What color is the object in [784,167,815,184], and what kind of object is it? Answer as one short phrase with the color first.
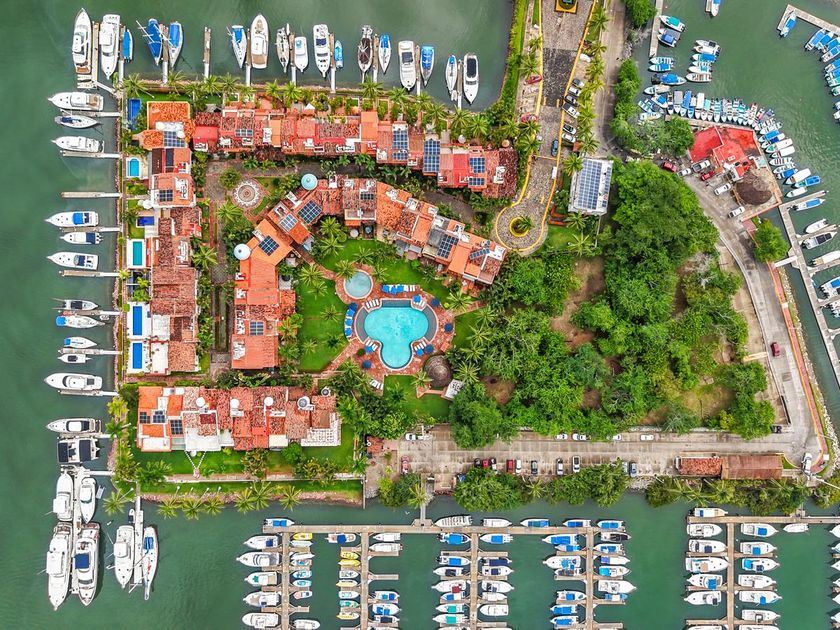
white boat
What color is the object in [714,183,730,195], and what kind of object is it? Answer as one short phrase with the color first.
white vehicle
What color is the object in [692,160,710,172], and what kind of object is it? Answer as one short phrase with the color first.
white vehicle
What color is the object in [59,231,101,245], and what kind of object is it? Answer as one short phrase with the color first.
white boat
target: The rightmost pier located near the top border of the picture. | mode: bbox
[776,4,840,37]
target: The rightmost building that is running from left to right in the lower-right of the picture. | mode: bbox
[715,452,783,478]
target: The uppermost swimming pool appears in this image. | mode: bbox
[127,98,141,130]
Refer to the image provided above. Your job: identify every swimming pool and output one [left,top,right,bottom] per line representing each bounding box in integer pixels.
[127,98,141,130]
[344,270,373,299]
[137,216,154,227]
[132,343,142,368]
[354,299,439,372]
[131,241,143,265]
[132,306,142,336]
[128,158,139,177]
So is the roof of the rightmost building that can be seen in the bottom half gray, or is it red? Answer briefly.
red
